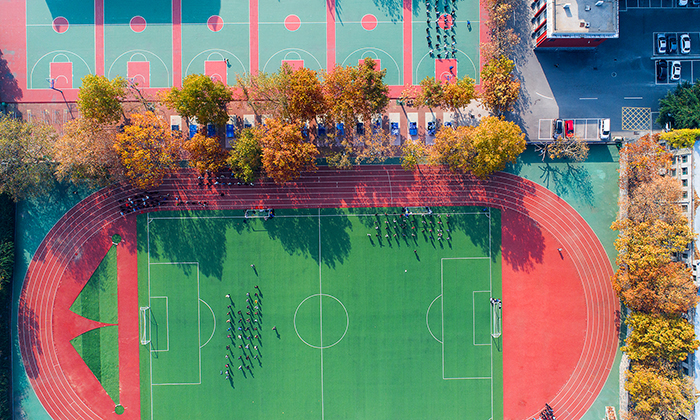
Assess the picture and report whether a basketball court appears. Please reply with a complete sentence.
Yes, there's a basketball court down there.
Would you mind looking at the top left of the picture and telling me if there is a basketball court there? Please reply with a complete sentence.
Yes, a basketball court appears at the top left of the picture.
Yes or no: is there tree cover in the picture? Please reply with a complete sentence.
Yes, tree cover can be seen from above here.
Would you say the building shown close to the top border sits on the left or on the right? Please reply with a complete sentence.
The building shown close to the top border sits on the right side.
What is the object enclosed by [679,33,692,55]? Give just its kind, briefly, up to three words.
vehicle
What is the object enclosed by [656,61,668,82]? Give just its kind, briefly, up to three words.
vehicle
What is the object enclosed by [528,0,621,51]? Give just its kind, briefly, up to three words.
building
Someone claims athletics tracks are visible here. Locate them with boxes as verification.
[20,166,622,420]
